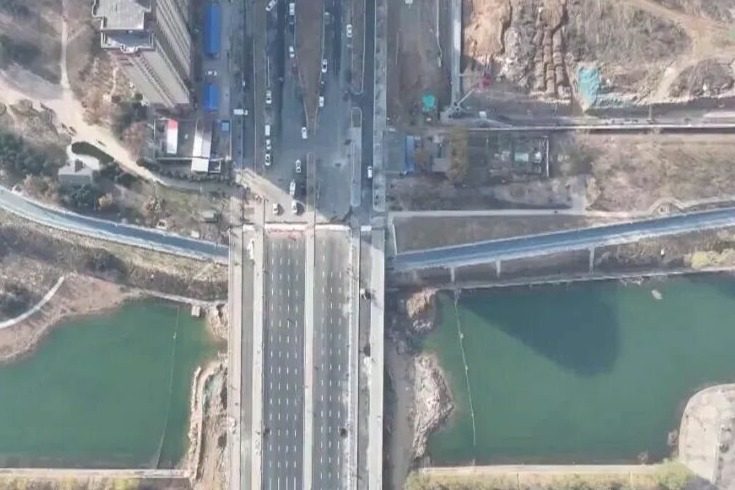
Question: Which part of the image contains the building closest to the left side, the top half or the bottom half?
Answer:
top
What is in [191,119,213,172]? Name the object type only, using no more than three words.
building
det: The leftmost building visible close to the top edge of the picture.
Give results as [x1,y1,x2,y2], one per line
[91,0,199,110]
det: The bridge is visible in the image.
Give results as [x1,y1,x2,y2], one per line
[228,223,384,490]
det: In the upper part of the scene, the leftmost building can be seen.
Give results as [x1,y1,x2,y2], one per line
[59,159,93,184]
